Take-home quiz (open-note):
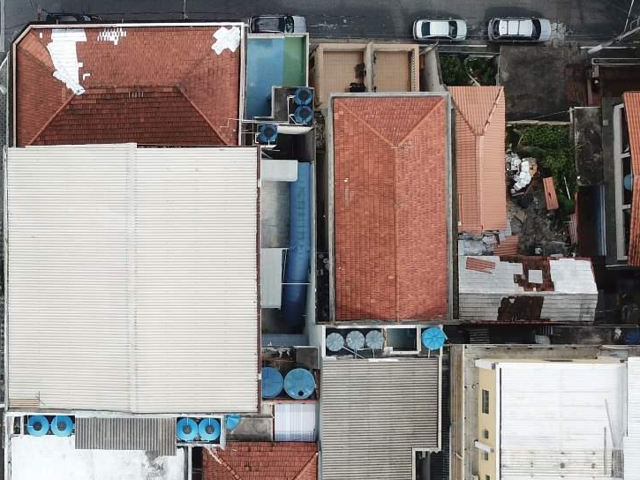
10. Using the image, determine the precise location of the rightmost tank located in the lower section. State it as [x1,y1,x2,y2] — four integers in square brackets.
[420,327,446,351]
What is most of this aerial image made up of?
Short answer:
buildings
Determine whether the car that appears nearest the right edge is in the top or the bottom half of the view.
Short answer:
top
